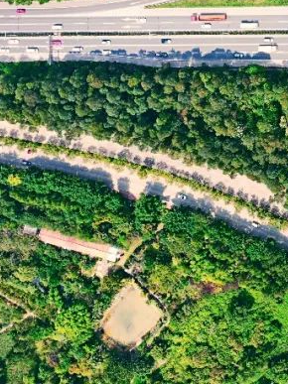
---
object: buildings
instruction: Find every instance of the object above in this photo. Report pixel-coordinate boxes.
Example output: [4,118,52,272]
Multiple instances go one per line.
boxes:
[39,225,123,261]
[94,258,112,277]
[22,224,39,235]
